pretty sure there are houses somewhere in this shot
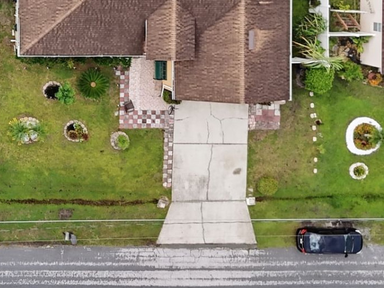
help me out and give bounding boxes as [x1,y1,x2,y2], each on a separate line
[362,0,384,75]
[14,0,294,103]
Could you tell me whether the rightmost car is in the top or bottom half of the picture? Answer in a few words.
bottom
